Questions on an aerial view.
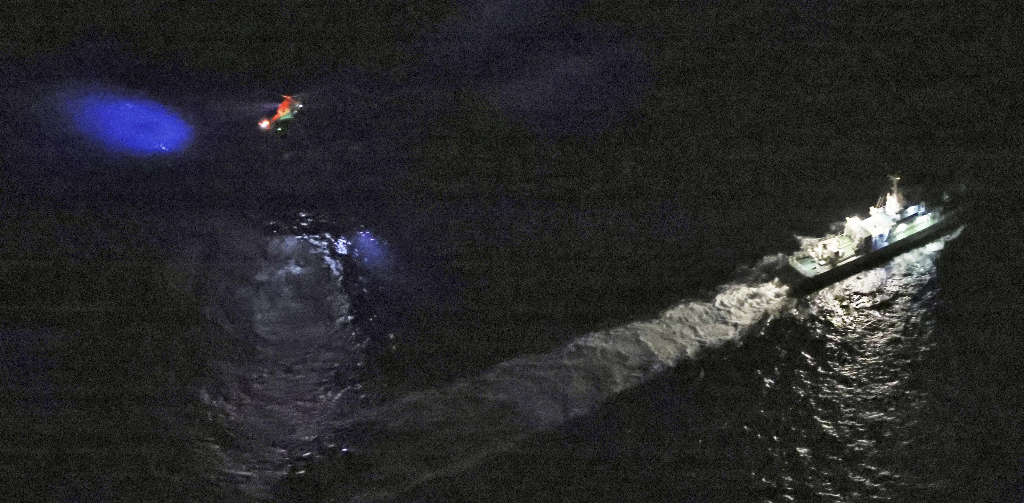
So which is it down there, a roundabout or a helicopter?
helicopter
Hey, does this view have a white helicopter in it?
No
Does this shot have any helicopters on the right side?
No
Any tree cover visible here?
No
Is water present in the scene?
Yes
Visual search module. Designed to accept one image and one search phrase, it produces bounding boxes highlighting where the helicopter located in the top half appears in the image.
[257,80,309,130]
